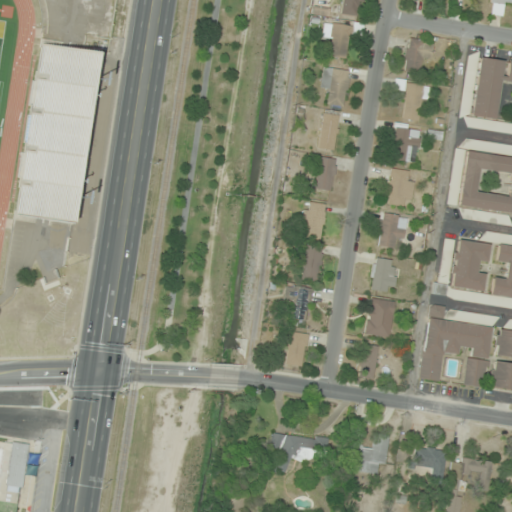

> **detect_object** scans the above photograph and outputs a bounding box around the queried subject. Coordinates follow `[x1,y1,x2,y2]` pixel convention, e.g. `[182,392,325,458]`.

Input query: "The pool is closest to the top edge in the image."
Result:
[445,359,459,378]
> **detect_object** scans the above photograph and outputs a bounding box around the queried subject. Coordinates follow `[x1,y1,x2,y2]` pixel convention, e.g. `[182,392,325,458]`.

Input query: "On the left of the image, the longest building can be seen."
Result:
[15,44,104,227]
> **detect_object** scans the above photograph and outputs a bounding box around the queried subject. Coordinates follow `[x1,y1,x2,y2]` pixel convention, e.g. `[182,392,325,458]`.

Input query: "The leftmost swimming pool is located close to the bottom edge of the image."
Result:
[294,491,314,509]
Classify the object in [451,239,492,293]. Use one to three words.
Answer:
building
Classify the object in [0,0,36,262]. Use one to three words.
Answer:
running track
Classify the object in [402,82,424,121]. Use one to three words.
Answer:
house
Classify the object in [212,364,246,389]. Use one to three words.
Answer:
bridge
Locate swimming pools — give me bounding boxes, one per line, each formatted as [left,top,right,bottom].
[294,491,314,509]
[445,359,459,378]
